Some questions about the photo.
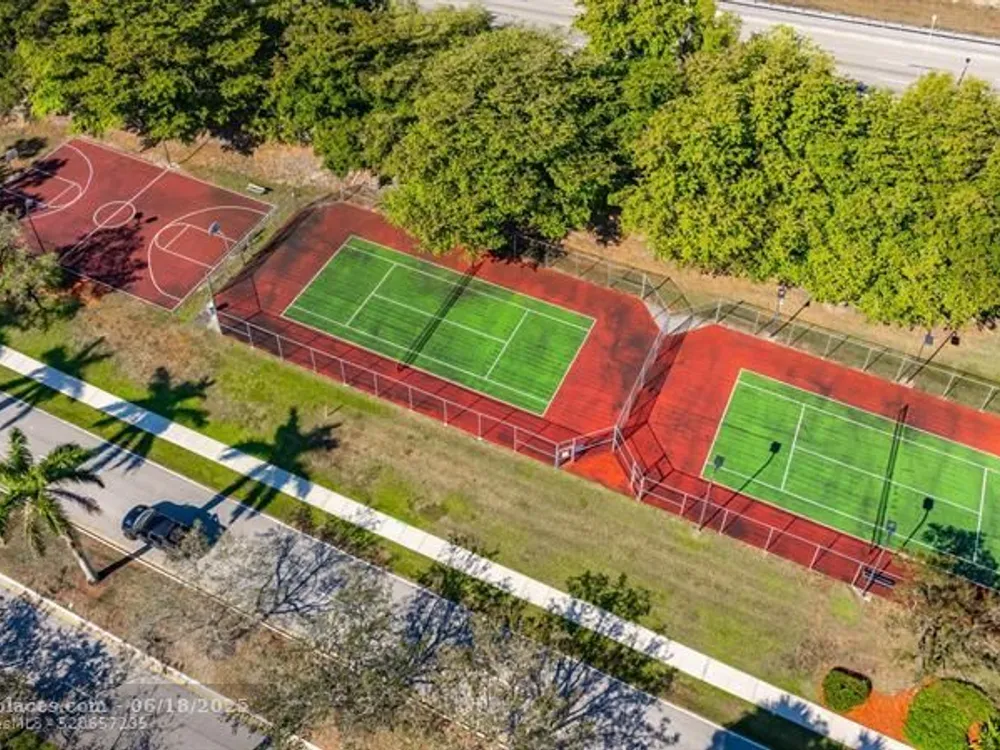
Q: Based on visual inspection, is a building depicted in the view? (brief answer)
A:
No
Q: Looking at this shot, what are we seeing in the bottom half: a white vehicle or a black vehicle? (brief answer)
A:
black vehicle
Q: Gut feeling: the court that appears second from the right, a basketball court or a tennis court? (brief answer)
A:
tennis court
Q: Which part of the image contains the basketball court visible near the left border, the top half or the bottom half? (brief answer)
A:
top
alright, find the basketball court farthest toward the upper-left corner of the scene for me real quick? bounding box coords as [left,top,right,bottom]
[0,137,276,312]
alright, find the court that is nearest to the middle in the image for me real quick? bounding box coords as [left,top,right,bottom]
[215,198,664,482]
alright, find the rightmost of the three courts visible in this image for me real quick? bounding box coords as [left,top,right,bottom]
[596,323,1000,635]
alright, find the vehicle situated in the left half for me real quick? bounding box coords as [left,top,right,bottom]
[120,501,207,562]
